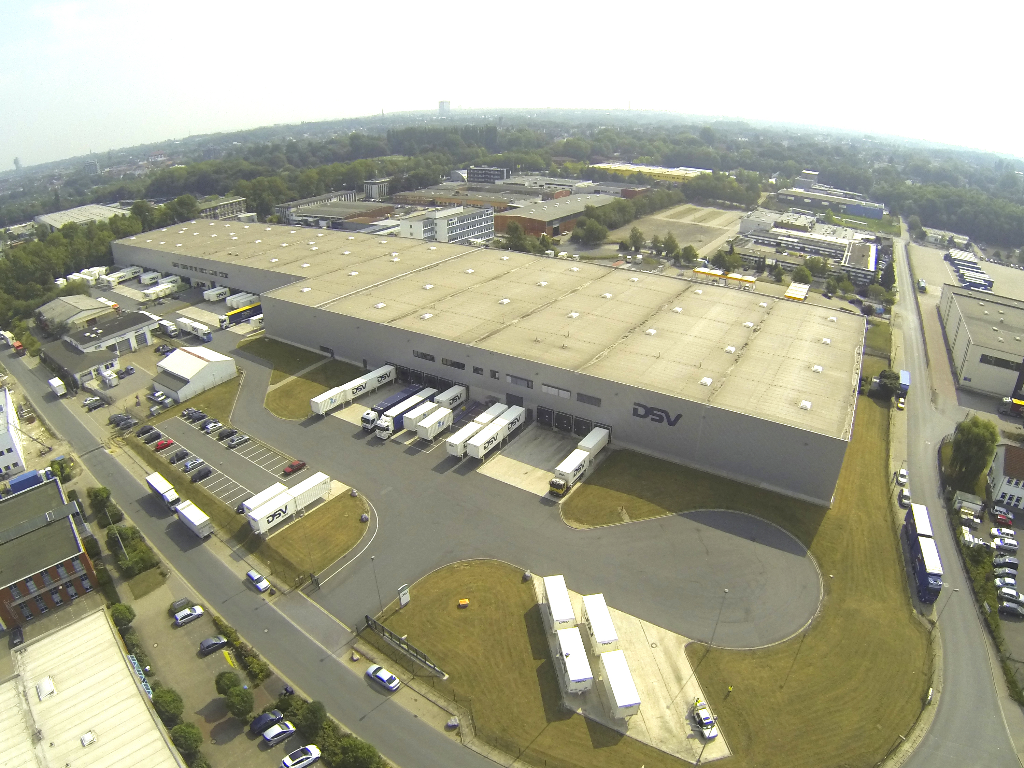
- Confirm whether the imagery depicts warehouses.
Yes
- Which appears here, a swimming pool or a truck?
truck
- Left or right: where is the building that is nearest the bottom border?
left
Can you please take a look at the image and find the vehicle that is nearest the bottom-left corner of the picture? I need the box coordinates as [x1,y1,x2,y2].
[3,619,25,646]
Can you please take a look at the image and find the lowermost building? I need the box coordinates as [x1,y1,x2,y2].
[0,606,189,768]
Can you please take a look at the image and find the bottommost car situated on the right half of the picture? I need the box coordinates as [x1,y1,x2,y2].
[691,691,723,740]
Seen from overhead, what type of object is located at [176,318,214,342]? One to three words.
truck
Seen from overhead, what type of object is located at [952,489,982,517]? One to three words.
shed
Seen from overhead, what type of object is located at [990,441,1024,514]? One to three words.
house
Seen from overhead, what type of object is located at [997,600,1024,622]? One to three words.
car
